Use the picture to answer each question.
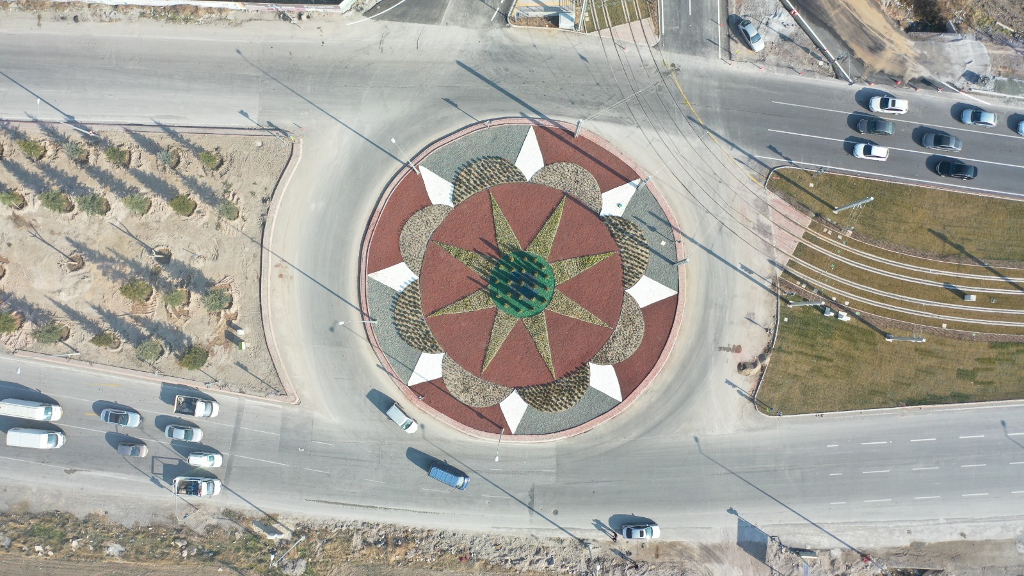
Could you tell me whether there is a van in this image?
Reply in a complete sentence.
Yes, there is a van in the image.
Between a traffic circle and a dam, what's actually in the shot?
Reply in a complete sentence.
Looking from above, you can make out a traffic circle.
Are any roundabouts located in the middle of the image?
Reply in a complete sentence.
Yes, there is a roundabout in the middle of the image.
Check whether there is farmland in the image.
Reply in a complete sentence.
No, the scene doesn't show any farmland.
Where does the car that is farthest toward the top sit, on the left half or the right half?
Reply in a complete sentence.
The car that is farthest toward the top appears in the right half of the scene.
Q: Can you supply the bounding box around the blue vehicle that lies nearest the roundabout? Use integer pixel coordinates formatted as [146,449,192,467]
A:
[428,461,469,491]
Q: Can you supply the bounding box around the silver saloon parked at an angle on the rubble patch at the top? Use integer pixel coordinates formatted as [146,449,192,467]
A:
[737,17,764,54]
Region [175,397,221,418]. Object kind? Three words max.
truck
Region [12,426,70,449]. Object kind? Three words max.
vehicle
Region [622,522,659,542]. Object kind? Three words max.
car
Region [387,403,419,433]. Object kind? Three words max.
van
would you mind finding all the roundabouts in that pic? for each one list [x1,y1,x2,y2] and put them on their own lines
[358,116,685,443]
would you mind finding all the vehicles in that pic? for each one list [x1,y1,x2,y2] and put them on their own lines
[1016,121,1024,137]
[622,522,659,542]
[737,17,764,54]
[101,408,143,429]
[175,397,221,418]
[117,441,150,460]
[12,426,70,449]
[851,141,890,162]
[959,108,999,129]
[166,424,205,443]
[867,94,909,116]
[173,476,222,497]
[856,117,896,137]
[387,403,419,433]
[187,451,224,470]
[2,399,67,423]
[428,461,469,491]
[935,160,978,181]
[920,132,962,153]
